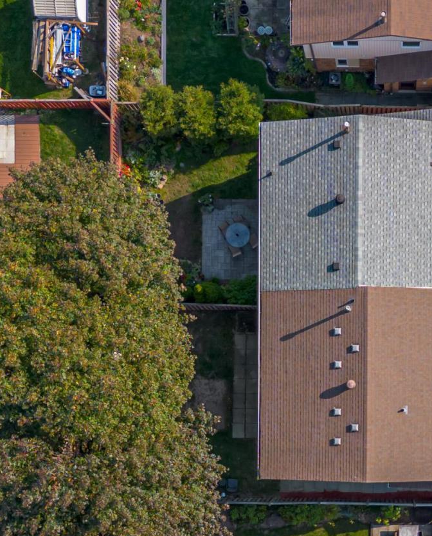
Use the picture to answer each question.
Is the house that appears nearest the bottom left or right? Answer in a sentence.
The house that appears nearest the bottom is on the right side of the image.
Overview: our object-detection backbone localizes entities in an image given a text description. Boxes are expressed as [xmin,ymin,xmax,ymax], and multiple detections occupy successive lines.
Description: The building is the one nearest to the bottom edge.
[255,287,432,491]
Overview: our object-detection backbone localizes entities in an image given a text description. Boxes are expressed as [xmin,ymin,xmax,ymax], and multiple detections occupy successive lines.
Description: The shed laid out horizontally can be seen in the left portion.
[33,0,104,29]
